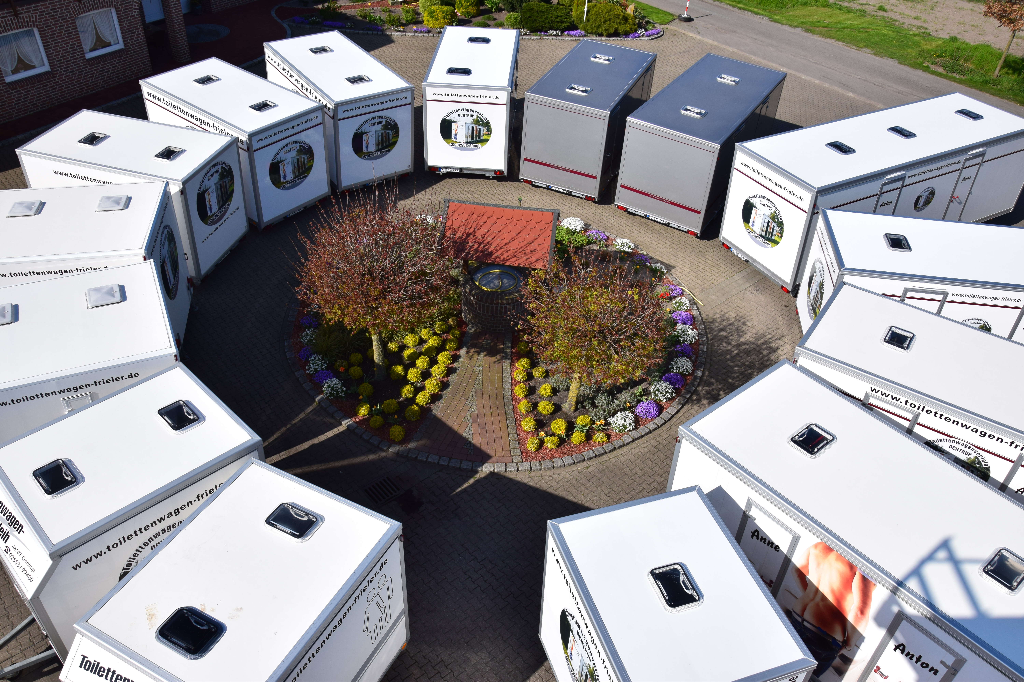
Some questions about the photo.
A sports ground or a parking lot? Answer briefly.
parking lot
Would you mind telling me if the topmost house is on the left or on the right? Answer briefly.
left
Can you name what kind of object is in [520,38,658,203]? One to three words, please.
trailer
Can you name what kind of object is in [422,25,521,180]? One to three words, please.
trailer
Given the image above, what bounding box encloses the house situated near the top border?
[0,0,249,122]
